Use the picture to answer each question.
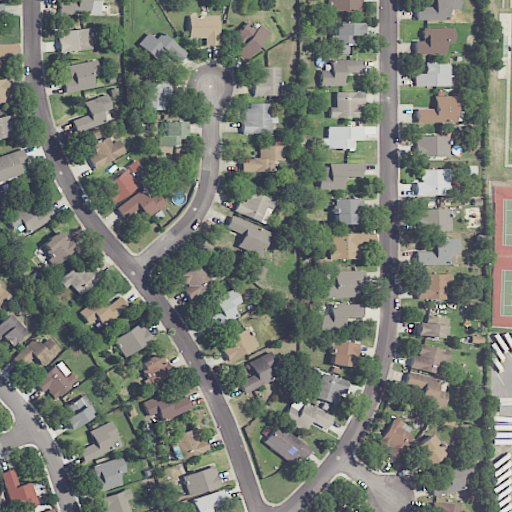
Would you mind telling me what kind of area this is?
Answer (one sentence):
This looks like a residential area.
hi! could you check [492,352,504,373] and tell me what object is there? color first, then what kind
white vehicle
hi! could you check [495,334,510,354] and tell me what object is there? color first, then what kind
white vehicle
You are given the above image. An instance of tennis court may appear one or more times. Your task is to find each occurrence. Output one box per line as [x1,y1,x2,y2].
[492,256,512,326]
[494,186,512,256]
